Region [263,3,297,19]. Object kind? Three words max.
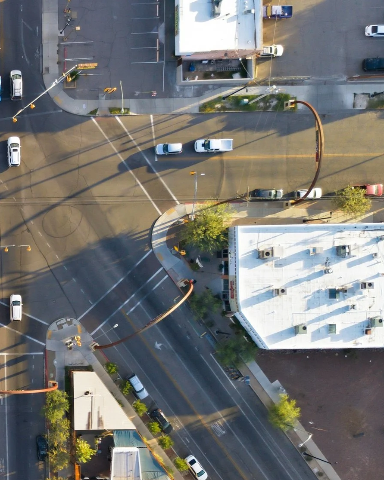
vehicle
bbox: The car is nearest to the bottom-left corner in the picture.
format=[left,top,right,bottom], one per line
[35,433,48,461]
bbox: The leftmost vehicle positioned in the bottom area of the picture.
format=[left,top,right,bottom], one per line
[8,293,21,321]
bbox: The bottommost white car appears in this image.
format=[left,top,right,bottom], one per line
[183,452,207,480]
